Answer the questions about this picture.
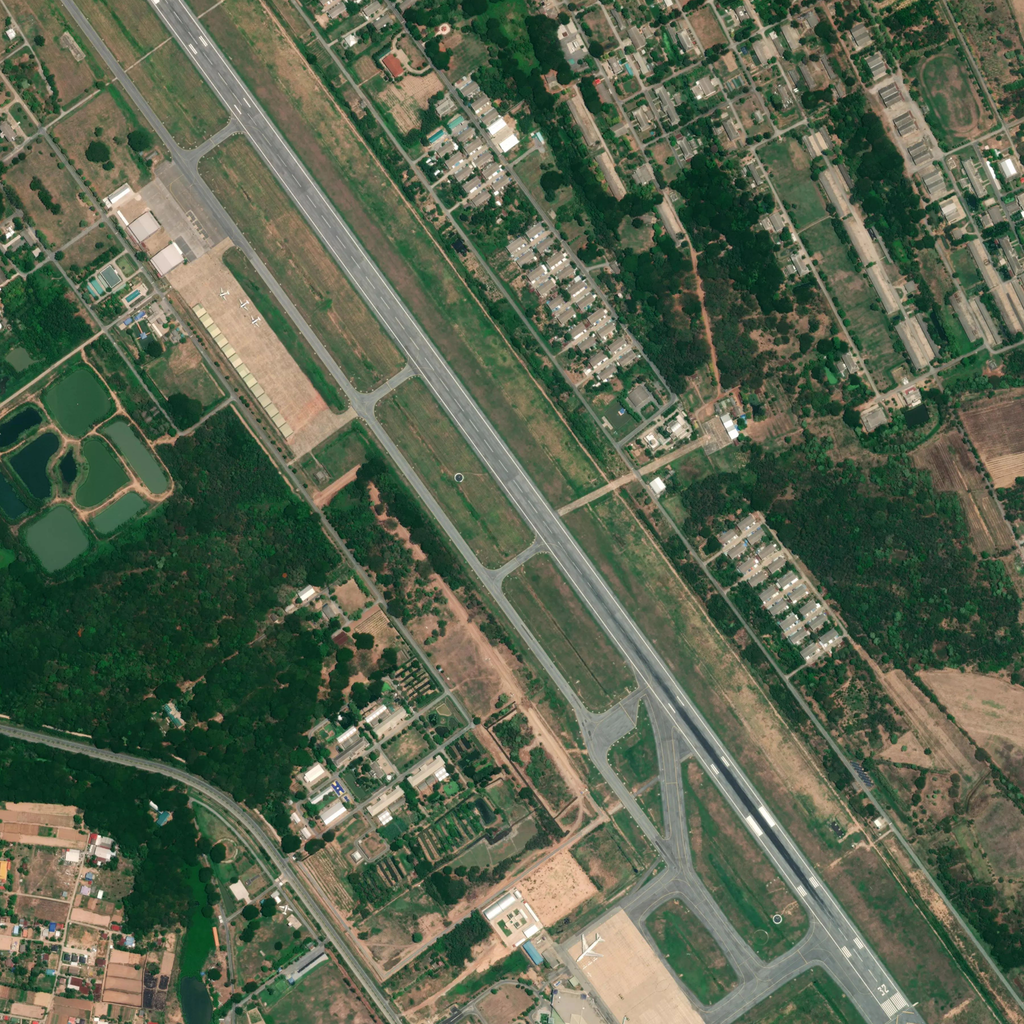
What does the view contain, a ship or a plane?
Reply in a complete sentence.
Of the two, only a plane appears.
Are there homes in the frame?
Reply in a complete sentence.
Yes, the photo shows a home.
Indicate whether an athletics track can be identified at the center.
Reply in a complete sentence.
No, no athletics track appears at the center.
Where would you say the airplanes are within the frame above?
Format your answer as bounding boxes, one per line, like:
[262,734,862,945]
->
[220,287,230,301]
[240,298,249,310]
[252,315,261,327]
[576,933,605,962]
[280,905,292,914]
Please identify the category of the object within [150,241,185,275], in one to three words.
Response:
hangar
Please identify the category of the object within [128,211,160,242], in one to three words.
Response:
hangar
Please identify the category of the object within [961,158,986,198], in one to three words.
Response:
house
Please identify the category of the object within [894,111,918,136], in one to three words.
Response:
building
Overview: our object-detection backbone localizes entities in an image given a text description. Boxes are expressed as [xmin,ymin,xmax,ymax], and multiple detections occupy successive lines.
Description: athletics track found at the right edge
[919,52,984,137]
